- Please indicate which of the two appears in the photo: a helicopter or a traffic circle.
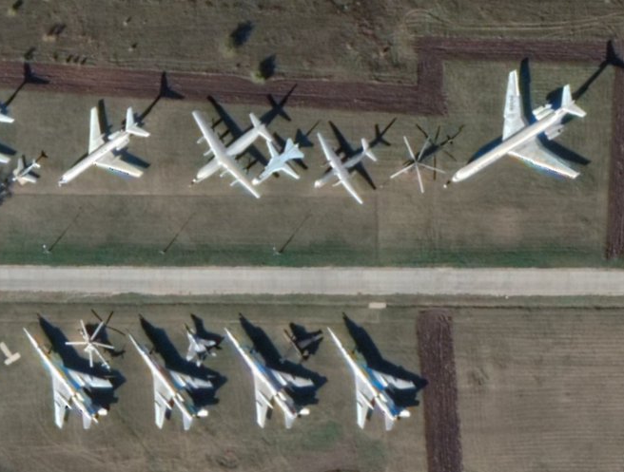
helicopter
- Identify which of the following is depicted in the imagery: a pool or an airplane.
airplane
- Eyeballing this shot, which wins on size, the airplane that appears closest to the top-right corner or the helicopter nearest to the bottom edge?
the airplane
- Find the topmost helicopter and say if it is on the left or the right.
right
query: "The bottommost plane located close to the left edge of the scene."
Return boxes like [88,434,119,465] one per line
[23,329,113,431]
